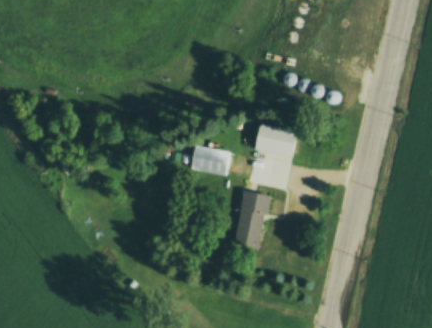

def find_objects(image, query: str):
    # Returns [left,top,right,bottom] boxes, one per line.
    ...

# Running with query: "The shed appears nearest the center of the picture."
[191,146,232,176]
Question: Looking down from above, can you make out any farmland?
Yes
